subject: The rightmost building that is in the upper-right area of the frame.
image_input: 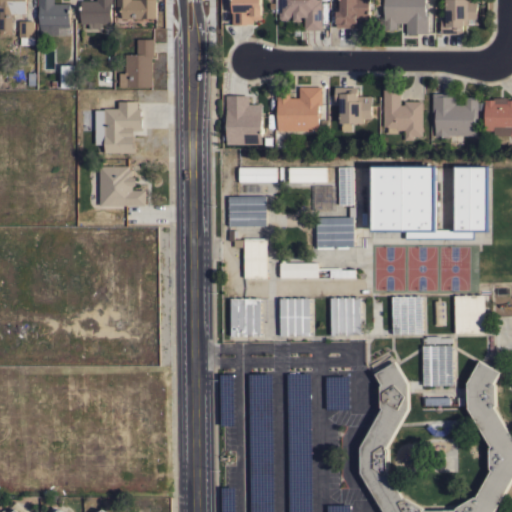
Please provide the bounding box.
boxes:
[484,99,512,136]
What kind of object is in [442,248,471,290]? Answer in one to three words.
basketball court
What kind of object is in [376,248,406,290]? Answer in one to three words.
basketball court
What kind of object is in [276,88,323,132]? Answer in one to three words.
house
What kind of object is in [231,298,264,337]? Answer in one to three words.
building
